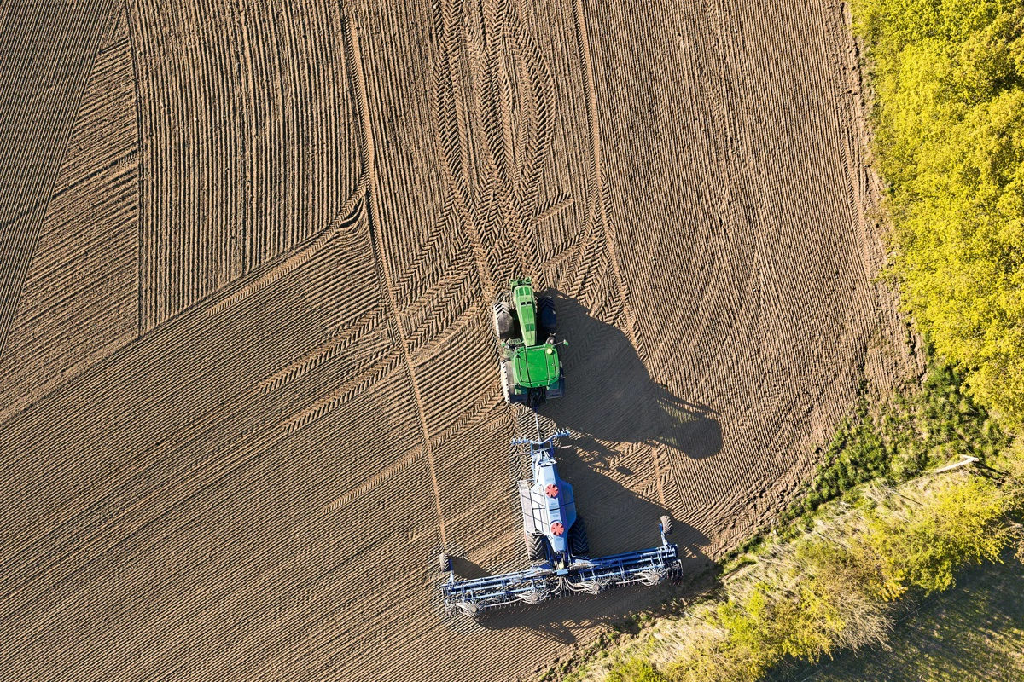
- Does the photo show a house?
No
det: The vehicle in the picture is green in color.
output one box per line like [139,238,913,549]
[493,276,568,410]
